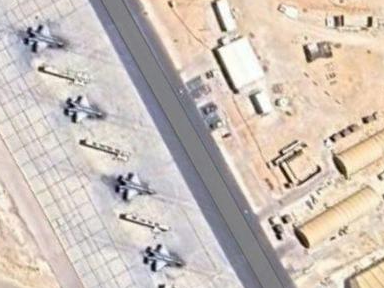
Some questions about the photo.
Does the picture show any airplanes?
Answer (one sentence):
Yes, the picture does show an airplane.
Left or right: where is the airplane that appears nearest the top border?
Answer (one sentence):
It is on the left.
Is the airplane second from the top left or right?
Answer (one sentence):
The airplane second from the top sits on the left side.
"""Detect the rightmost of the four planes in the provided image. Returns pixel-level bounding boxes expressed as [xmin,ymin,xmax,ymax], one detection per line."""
[145,244,185,270]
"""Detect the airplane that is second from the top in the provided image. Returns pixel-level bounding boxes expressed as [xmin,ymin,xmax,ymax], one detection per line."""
[64,94,104,119]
